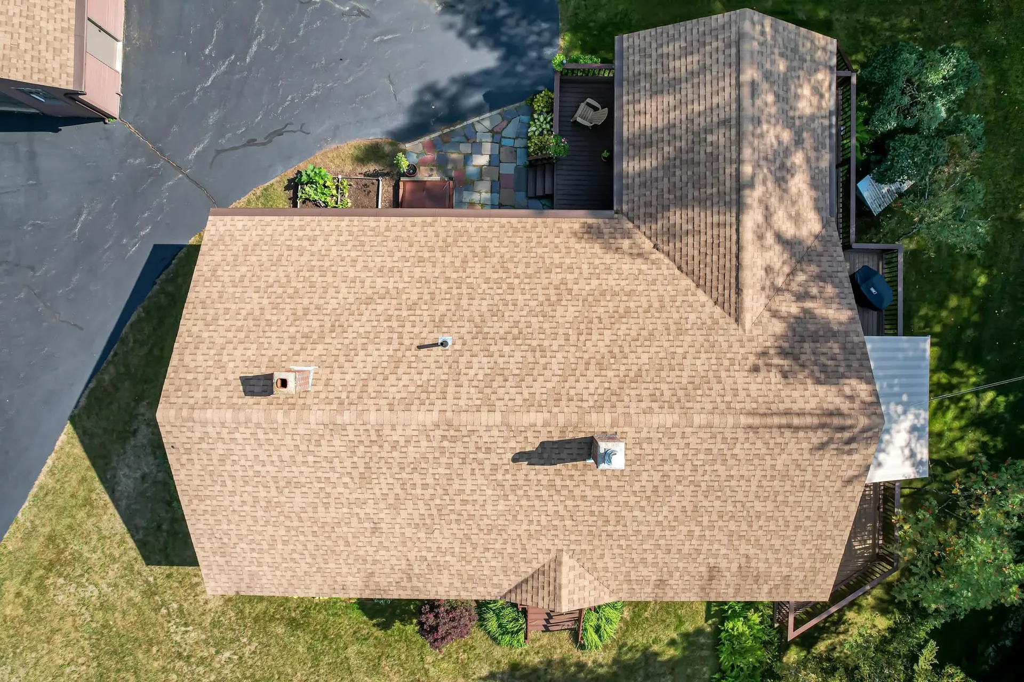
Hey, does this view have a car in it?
No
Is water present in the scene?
No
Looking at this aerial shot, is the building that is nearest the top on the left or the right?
left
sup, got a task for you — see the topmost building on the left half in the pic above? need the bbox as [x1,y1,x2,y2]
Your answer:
[0,0,124,122]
